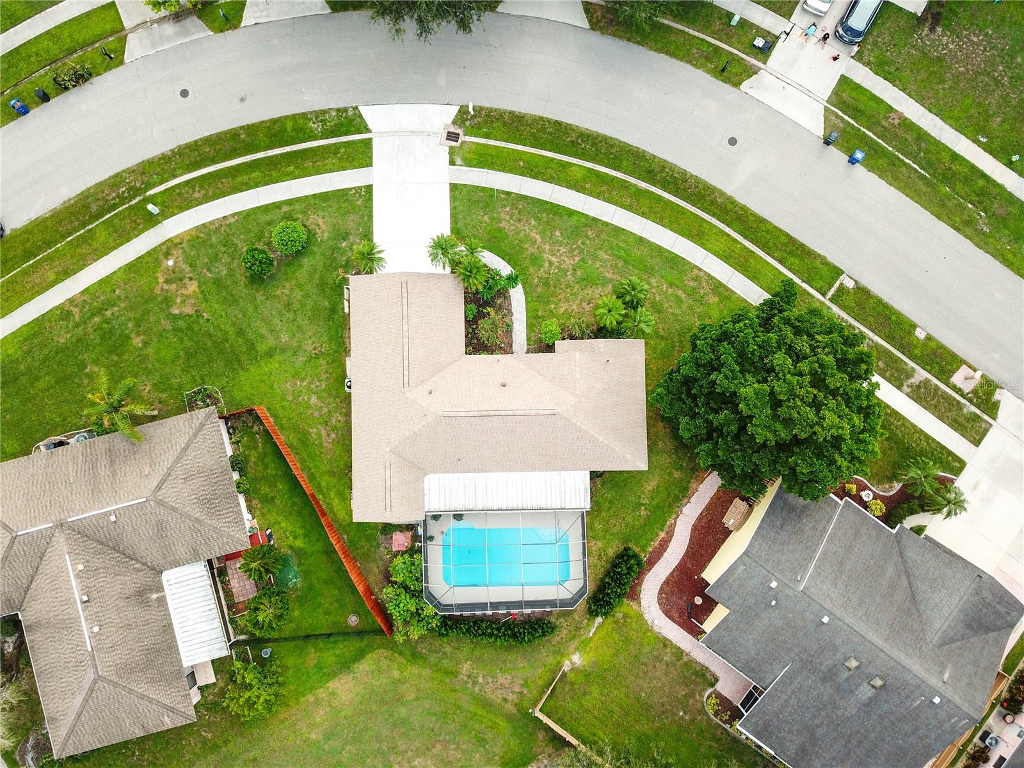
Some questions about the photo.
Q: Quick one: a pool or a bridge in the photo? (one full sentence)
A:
Visible in the photo is a pool.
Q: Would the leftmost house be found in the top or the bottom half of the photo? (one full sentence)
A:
The leftmost house sits in the bottom half of the picture.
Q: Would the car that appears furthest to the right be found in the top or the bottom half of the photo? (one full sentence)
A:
The top half of the photo is where the car that appears furthest to the right is.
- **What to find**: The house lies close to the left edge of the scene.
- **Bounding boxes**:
[0,405,255,759]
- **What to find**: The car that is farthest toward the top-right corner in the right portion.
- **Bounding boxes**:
[836,0,888,48]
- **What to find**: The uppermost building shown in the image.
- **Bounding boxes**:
[349,273,649,523]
